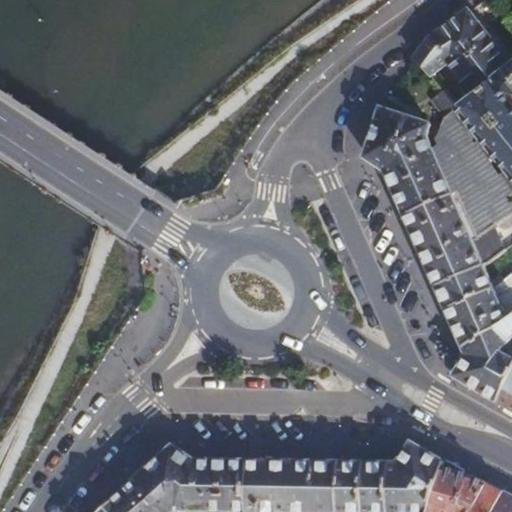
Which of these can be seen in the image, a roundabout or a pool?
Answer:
roundabout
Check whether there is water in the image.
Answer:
Yes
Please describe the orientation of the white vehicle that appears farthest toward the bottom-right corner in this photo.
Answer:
at an angle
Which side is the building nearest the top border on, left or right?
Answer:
right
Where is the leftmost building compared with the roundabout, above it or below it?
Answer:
below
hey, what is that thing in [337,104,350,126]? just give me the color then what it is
blue vehicle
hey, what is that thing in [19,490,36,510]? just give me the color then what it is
white car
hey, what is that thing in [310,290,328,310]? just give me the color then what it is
white vehicle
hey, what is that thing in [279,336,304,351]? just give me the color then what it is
white vehicle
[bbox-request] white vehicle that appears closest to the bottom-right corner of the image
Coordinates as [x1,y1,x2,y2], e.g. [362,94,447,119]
[410,406,432,426]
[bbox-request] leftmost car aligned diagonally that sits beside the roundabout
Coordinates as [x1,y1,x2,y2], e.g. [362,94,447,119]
[168,248,186,267]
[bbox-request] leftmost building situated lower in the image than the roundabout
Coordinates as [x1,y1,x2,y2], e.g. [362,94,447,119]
[92,442,241,512]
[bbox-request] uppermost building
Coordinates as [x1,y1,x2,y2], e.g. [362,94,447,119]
[408,6,500,78]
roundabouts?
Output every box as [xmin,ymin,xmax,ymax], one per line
[185,220,328,364]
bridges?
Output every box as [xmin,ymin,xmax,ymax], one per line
[0,91,180,252]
